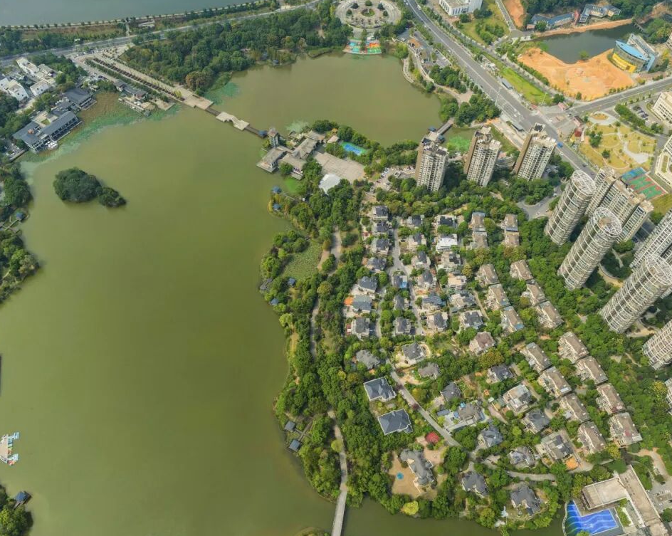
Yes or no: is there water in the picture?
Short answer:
Yes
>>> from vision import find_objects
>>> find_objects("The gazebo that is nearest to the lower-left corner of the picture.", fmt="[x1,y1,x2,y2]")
[14,489,34,506]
